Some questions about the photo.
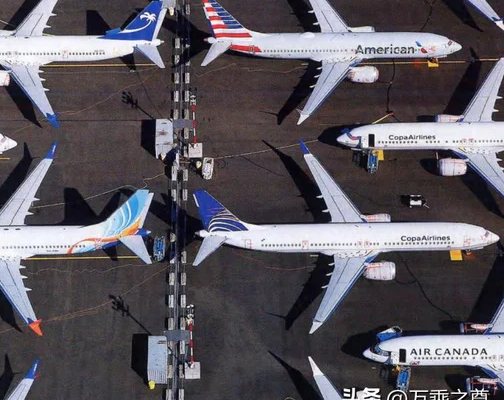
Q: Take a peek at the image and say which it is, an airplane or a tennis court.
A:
airplane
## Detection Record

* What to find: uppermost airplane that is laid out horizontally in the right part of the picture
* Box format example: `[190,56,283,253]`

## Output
[198,0,462,125]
